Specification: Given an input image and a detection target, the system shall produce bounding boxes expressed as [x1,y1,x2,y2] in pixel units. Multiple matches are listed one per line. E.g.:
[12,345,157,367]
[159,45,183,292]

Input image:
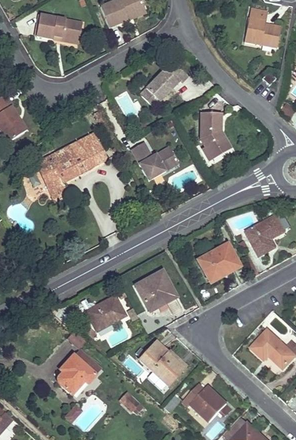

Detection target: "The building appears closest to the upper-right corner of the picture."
[244,7,282,50]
